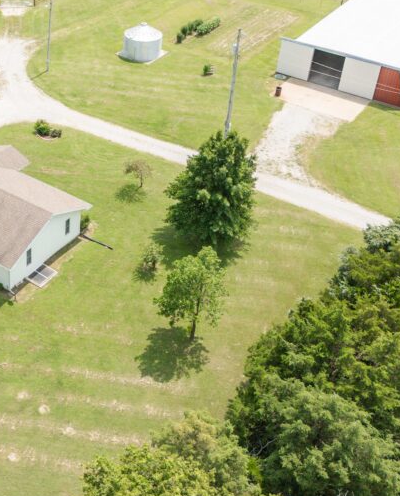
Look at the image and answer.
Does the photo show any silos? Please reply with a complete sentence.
Yes, the image includes a silo.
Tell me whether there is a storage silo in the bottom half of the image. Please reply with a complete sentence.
No, there is no storage silo in the bottom half of the image.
